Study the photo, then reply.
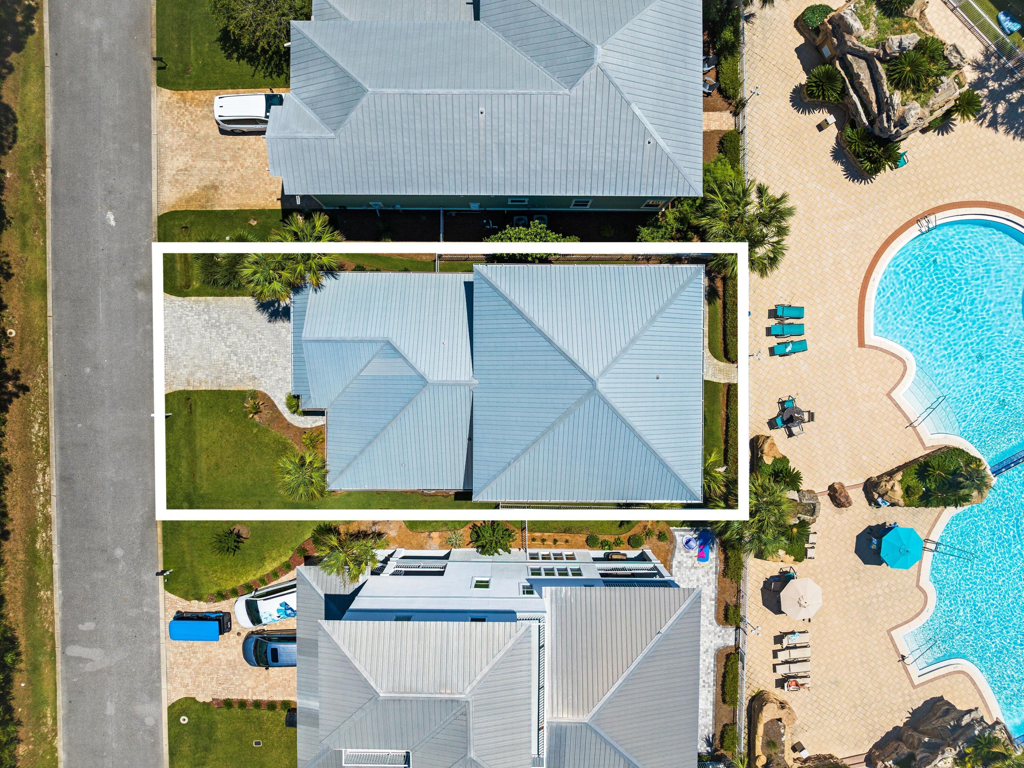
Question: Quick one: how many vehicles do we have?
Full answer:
There are 4 vehicles in the image.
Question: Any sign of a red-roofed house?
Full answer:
No, there's no red-roofed house here.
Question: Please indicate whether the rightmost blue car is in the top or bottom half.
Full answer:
The rightmost blue car sits in the bottom half of the picture.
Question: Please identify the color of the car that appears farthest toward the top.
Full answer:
The car that appears farthest toward the top looks white in the image.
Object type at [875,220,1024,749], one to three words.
swimming pool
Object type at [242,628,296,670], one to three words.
car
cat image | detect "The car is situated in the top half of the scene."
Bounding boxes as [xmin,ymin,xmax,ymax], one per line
[215,89,283,134]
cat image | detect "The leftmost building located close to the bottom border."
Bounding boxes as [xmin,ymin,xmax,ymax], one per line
[294,547,704,768]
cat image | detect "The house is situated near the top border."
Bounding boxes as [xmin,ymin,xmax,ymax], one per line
[267,0,705,217]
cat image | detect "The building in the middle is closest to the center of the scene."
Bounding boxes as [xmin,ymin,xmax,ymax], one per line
[288,260,708,506]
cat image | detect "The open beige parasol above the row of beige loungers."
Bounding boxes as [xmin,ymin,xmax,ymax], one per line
[779,576,823,619]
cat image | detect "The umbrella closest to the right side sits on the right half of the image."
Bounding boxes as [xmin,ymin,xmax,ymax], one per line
[879,527,924,570]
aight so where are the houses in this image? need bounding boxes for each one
[267,0,705,217]
[288,260,708,506]
[294,547,704,768]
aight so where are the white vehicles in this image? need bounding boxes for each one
[215,89,283,134]
[230,574,296,623]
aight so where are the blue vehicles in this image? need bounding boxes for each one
[167,609,231,641]
[242,628,296,670]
